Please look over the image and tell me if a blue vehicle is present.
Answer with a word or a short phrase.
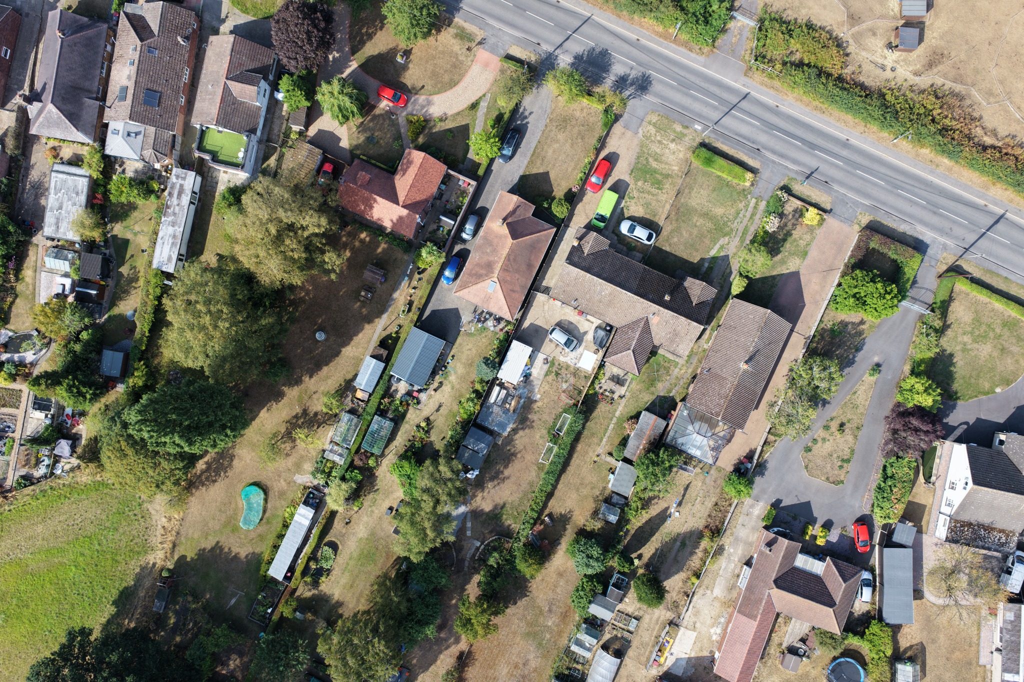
Yes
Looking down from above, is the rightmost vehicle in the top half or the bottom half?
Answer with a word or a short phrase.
bottom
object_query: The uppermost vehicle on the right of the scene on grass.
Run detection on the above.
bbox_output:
[618,221,656,246]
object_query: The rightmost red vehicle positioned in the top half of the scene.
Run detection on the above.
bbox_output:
[587,158,612,194]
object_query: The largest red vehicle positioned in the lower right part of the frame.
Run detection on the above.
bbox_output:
[851,521,872,553]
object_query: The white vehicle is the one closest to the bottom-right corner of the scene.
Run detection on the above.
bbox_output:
[998,552,1024,594]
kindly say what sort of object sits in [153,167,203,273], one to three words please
building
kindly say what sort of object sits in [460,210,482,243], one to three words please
car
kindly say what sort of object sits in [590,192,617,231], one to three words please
vehicle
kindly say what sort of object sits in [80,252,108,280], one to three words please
shed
